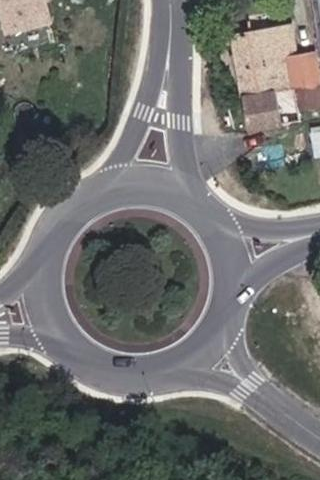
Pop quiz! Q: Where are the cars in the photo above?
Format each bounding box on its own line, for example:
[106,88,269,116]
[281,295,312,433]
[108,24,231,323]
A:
[299,26,310,47]
[243,132,264,146]
[113,357,133,368]
[236,286,256,305]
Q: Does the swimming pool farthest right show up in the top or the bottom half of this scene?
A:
top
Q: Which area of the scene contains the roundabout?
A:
center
